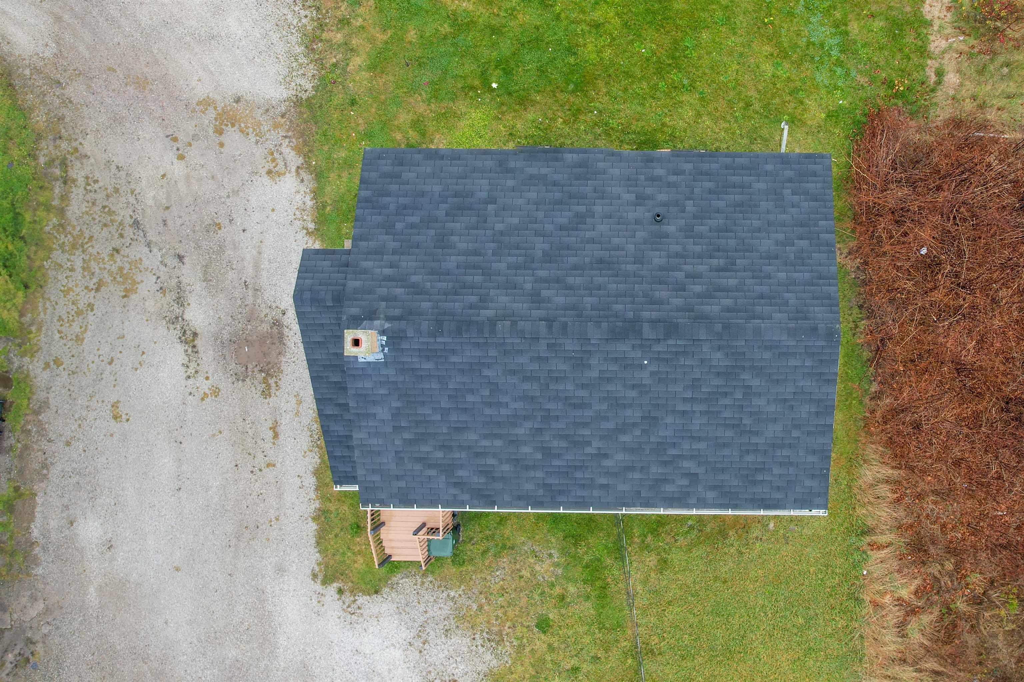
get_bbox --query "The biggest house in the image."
[293,144,842,516]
